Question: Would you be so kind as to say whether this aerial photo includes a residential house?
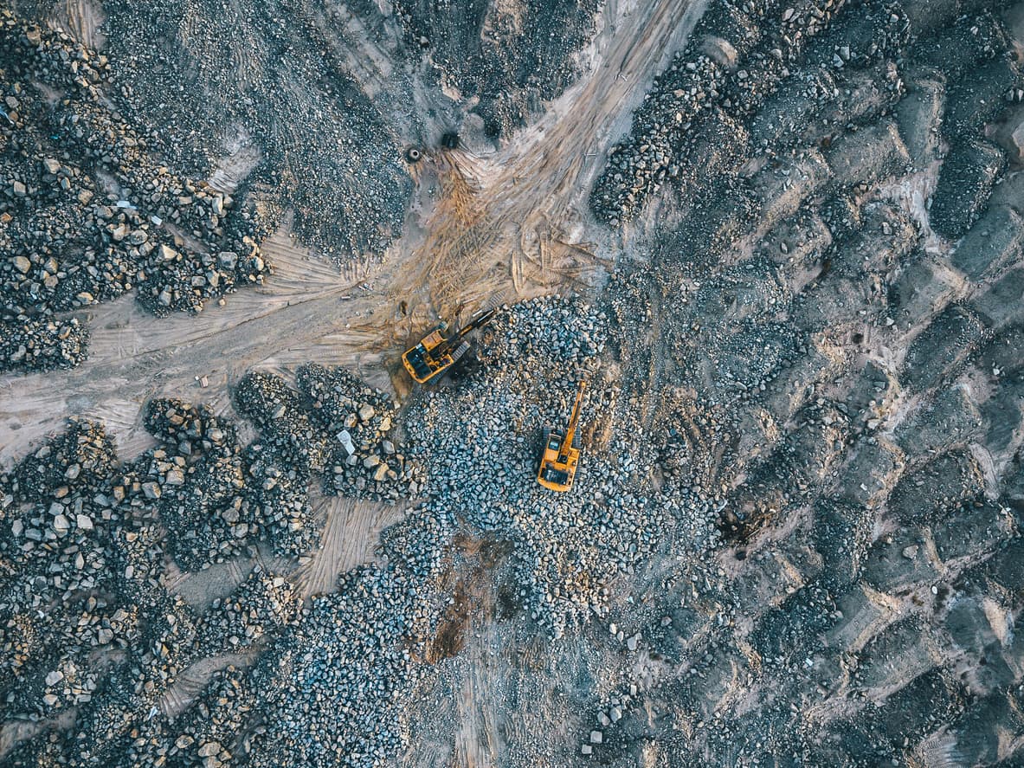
No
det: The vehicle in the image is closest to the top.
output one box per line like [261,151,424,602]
[402,308,505,389]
